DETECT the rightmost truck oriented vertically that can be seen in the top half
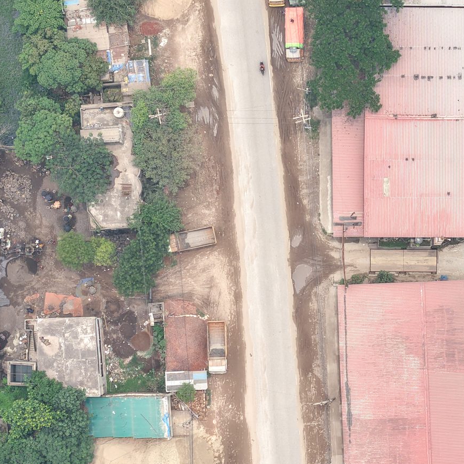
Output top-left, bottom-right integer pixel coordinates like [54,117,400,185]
[283,6,306,67]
